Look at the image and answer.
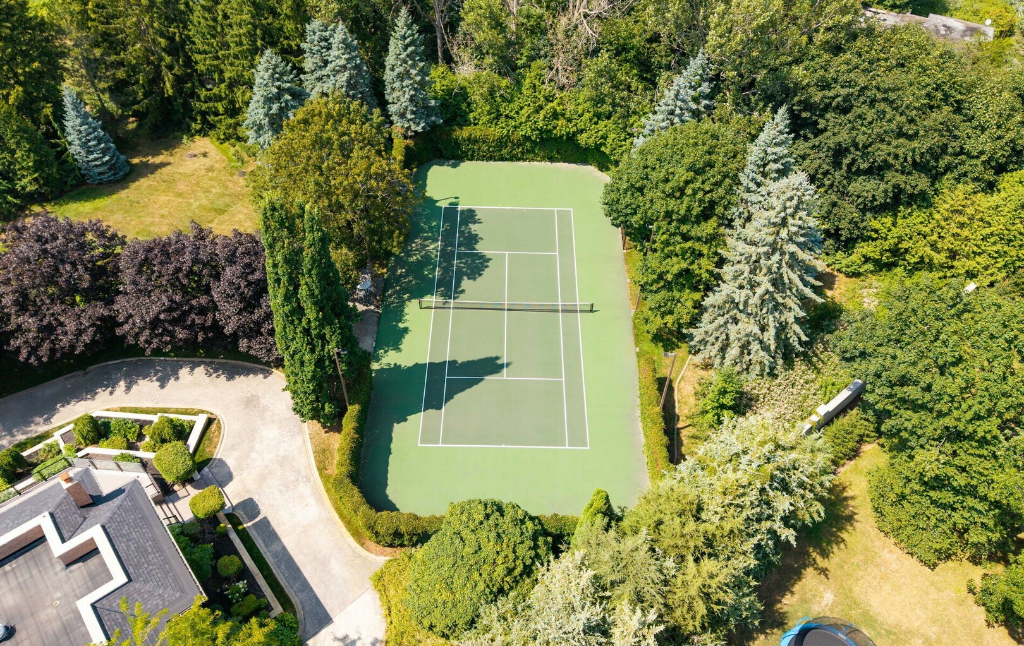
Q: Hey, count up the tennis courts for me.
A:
1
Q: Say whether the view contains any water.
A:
No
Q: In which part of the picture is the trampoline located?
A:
bottom right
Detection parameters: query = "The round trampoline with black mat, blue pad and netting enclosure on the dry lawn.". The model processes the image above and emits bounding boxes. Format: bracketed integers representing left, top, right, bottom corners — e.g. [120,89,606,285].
[780,609,870,646]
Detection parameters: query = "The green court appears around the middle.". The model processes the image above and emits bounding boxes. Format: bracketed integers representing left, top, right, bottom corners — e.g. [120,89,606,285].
[363,160,648,528]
